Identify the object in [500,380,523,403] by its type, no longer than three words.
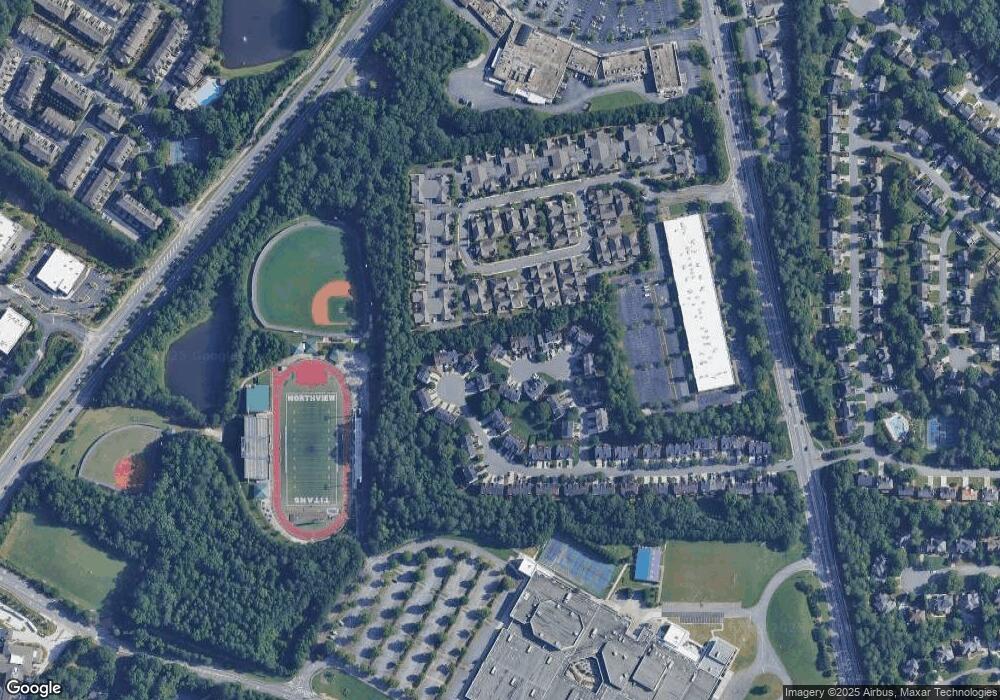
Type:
house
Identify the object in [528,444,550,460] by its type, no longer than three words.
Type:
house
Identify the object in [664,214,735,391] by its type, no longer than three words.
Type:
building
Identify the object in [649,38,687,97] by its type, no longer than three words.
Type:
building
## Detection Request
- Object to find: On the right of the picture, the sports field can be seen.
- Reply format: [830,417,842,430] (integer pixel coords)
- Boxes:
[667,545,734,599]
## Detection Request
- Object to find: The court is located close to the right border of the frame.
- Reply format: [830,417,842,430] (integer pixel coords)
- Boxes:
[928,419,961,450]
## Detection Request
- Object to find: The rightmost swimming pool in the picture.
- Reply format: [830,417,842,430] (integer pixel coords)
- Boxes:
[884,413,909,441]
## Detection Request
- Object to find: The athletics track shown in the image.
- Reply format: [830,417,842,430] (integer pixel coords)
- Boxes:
[272,360,351,542]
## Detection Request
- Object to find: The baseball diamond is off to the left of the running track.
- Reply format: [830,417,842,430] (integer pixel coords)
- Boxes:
[79,425,165,498]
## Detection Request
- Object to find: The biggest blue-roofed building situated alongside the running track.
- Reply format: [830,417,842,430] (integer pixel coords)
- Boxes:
[246,385,269,411]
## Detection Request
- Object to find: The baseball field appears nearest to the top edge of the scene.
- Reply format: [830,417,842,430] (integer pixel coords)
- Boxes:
[252,220,372,336]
